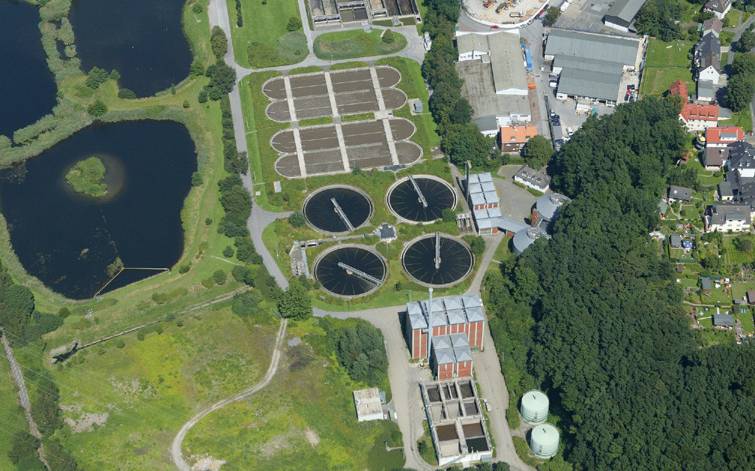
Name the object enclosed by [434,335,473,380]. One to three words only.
building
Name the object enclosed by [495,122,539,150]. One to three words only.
house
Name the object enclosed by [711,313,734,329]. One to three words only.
shed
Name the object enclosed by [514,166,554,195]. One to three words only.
house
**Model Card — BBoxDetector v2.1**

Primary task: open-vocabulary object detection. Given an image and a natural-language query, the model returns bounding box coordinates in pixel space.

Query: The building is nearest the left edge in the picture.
[282,231,307,278]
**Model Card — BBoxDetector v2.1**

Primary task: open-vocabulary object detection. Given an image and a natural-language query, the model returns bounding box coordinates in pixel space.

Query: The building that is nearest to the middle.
[375,226,399,244]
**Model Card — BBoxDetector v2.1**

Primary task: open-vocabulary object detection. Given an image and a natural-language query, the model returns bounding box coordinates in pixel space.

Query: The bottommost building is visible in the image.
[353,387,383,420]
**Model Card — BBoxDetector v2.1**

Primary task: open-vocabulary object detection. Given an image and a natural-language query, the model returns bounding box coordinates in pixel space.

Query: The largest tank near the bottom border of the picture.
[422,376,493,464]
